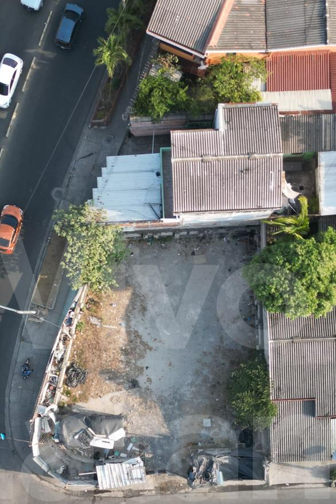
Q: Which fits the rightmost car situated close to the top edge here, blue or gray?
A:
blue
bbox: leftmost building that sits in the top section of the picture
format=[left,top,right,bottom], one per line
[87,148,173,232]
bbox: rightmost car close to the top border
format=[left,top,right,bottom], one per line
[53,2,83,52]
